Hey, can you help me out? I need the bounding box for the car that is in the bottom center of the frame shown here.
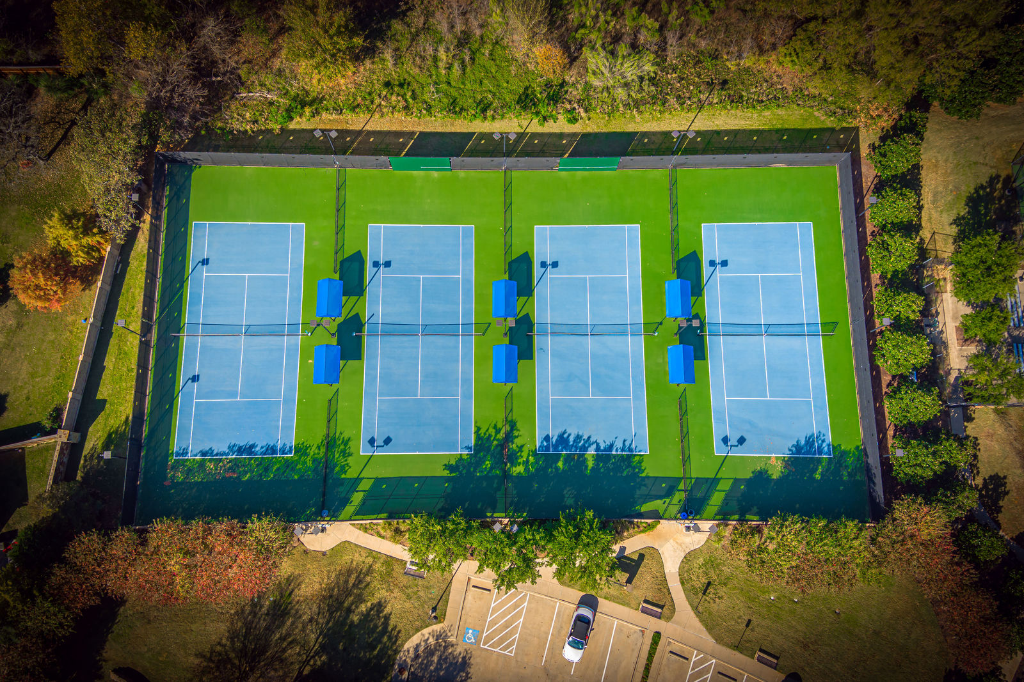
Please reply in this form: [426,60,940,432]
[566,604,596,662]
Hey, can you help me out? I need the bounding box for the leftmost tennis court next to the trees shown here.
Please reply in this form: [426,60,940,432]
[134,165,339,525]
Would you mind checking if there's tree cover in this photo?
Yes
